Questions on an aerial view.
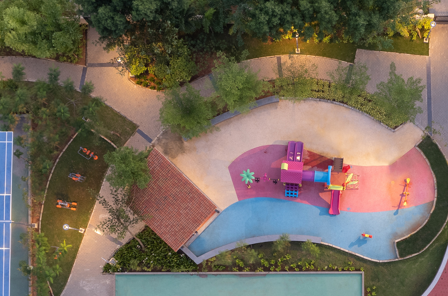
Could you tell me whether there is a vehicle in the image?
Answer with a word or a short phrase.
No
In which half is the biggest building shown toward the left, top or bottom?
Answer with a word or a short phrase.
bottom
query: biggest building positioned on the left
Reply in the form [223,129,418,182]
[128,147,221,253]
